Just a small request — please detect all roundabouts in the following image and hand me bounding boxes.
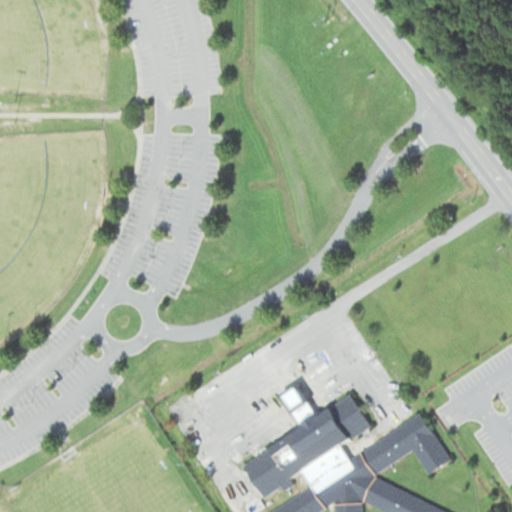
[96,295,150,350]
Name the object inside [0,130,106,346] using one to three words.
baseball field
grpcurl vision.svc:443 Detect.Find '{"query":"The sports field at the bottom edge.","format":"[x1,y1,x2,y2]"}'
[0,404,225,512]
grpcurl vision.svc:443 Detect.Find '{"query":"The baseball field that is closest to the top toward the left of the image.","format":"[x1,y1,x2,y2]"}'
[0,0,107,99]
